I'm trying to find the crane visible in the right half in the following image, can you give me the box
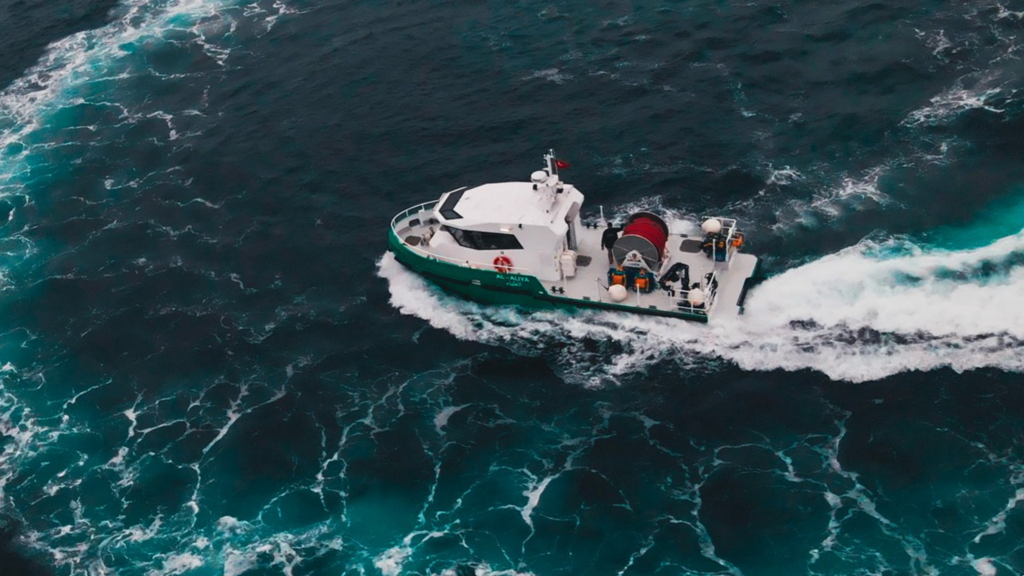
[656,260,691,301]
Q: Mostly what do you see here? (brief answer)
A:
water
